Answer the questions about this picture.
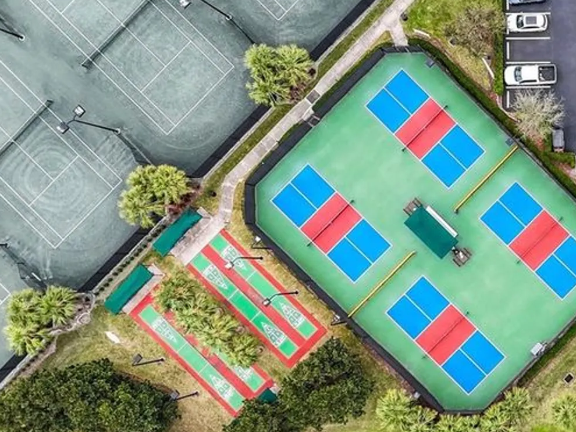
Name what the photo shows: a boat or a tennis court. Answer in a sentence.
Of the two, only a tennis court appears.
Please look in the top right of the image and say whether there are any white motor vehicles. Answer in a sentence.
Yes, a white motor vehicle appears in the top right of the image.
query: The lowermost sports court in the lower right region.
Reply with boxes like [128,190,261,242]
[386,276,507,395]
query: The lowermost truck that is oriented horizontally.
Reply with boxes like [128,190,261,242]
[504,63,557,86]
